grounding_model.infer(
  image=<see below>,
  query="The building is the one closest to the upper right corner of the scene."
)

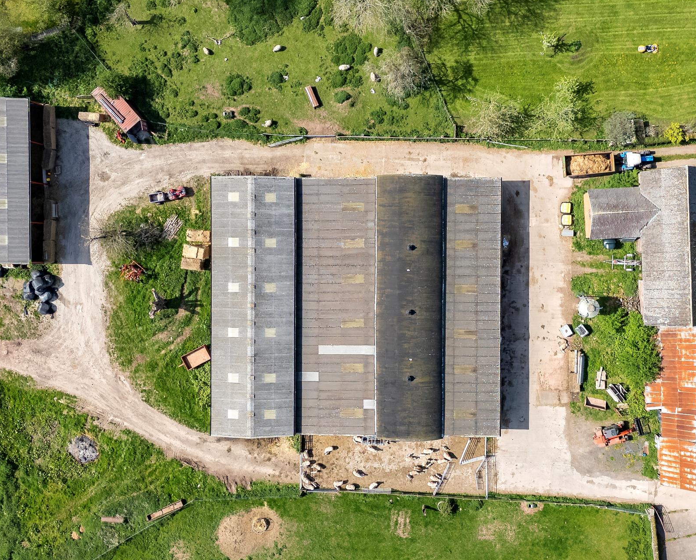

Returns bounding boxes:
[584,165,696,327]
